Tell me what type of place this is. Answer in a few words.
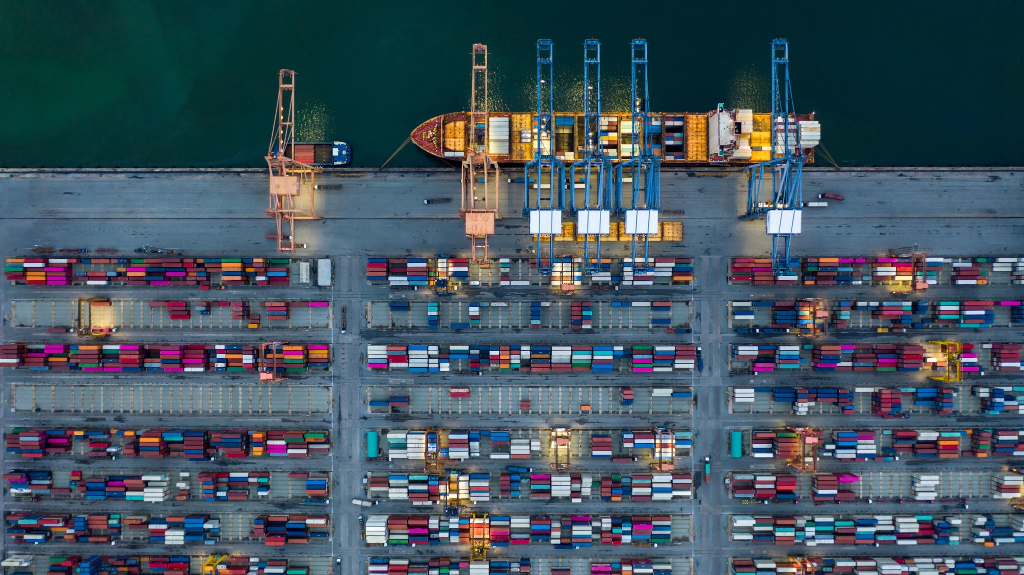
port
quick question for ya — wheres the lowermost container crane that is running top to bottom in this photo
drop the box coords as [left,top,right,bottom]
[469,508,490,561]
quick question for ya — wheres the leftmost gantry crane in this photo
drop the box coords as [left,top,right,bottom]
[76,295,112,340]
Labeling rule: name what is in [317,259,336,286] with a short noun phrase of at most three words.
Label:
shed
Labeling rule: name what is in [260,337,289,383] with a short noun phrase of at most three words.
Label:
container crane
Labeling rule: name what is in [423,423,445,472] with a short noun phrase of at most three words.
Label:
container crane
